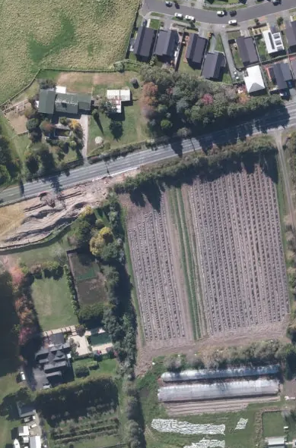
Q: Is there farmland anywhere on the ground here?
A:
Yes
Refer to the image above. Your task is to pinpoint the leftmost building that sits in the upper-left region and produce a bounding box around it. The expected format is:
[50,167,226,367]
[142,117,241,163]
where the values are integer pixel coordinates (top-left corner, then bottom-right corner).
[39,87,92,114]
